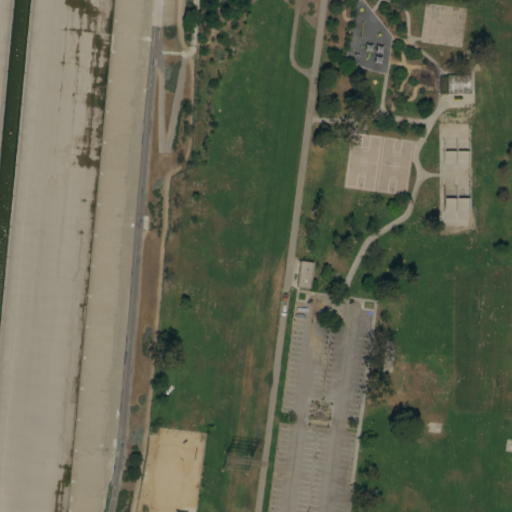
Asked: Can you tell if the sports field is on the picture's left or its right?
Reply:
right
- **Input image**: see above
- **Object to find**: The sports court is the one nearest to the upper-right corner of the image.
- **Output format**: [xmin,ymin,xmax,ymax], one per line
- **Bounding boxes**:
[422,4,466,46]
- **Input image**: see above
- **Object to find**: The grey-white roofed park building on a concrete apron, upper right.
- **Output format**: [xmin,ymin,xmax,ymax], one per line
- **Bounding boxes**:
[450,76,474,94]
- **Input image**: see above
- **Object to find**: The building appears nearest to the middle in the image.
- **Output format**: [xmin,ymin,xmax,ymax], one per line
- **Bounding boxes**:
[299,261,316,290]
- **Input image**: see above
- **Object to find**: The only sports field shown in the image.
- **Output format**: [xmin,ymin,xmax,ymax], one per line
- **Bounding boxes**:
[454,268,512,412]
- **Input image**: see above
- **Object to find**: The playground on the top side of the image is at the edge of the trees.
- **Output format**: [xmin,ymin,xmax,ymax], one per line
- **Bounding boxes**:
[352,0,392,76]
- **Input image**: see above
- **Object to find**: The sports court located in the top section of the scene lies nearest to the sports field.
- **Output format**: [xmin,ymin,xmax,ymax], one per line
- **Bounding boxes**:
[440,174,472,226]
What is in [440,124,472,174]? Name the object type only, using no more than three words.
sports court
